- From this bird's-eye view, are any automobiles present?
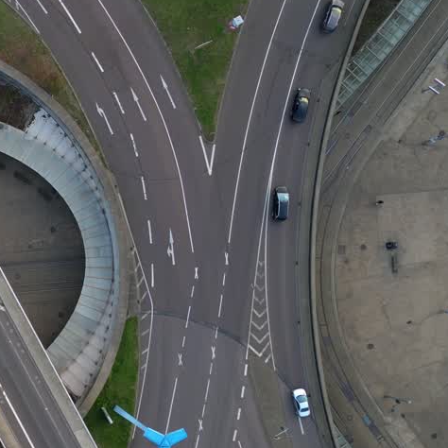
Yes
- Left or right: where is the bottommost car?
right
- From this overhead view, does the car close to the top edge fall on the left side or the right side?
right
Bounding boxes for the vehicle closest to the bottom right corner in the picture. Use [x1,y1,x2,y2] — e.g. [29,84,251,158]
[290,388,311,418]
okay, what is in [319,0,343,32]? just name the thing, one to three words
car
